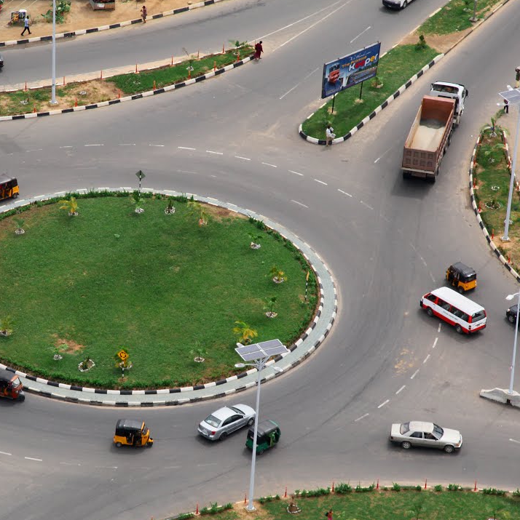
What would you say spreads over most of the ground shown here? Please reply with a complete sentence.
The scene is dominated by paved ground.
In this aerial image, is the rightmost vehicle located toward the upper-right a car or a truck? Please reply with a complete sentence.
The rightmost vehicle located toward the upper-right in the image is a truck.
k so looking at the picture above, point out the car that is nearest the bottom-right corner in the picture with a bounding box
[390,420,467,453]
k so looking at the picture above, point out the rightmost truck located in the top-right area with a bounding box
[402,86,462,176]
